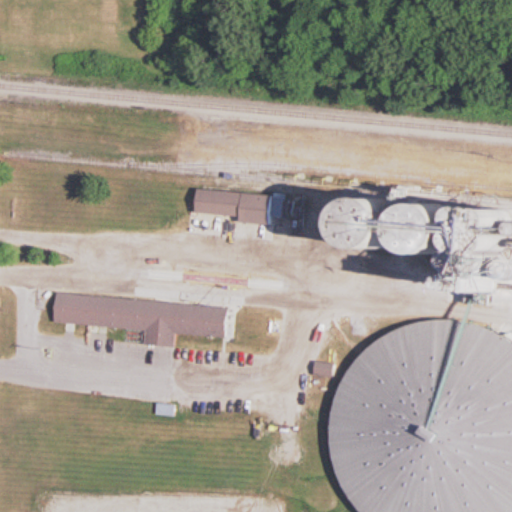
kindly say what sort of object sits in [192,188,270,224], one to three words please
building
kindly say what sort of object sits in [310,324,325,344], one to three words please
vehicle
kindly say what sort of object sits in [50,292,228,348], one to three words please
building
